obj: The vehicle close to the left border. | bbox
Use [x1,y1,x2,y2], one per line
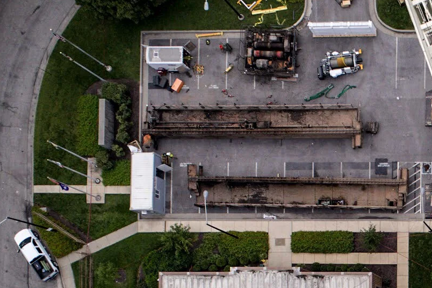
[15,226,61,282]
